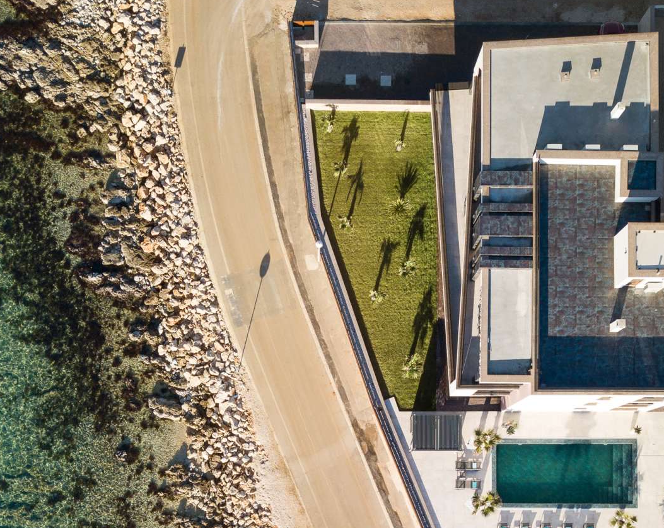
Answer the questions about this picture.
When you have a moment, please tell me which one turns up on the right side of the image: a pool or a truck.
pool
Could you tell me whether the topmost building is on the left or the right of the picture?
right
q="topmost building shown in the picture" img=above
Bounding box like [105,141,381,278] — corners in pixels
[467,32,664,410]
